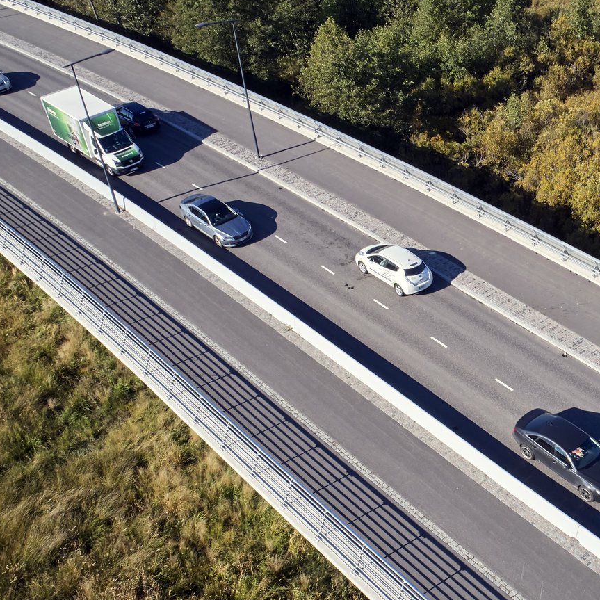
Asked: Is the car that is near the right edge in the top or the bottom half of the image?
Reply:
bottom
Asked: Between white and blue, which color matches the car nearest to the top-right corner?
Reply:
white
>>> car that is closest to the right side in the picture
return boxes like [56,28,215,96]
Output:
[514,408,600,501]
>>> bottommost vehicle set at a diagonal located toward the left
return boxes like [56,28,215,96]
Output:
[179,193,253,247]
